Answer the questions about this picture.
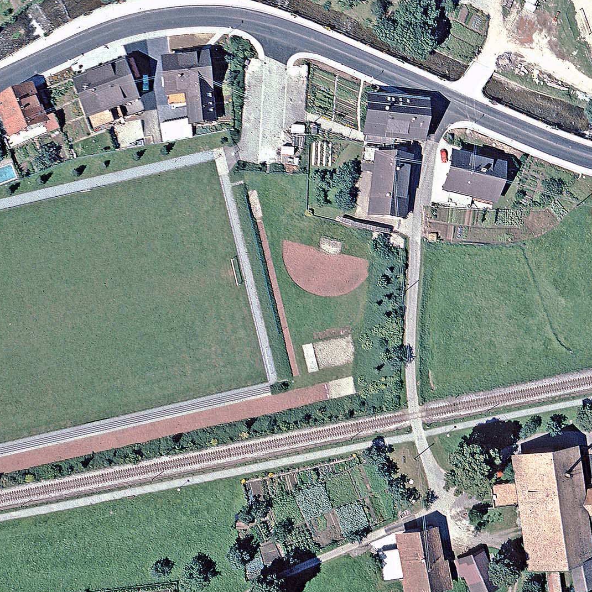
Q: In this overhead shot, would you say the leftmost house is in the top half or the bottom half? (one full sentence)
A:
The leftmost house sits in the top half of the picture.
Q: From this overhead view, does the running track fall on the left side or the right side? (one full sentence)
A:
The running track is on the left side of the image.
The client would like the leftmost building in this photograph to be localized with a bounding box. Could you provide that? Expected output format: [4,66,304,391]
[0,81,59,136]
